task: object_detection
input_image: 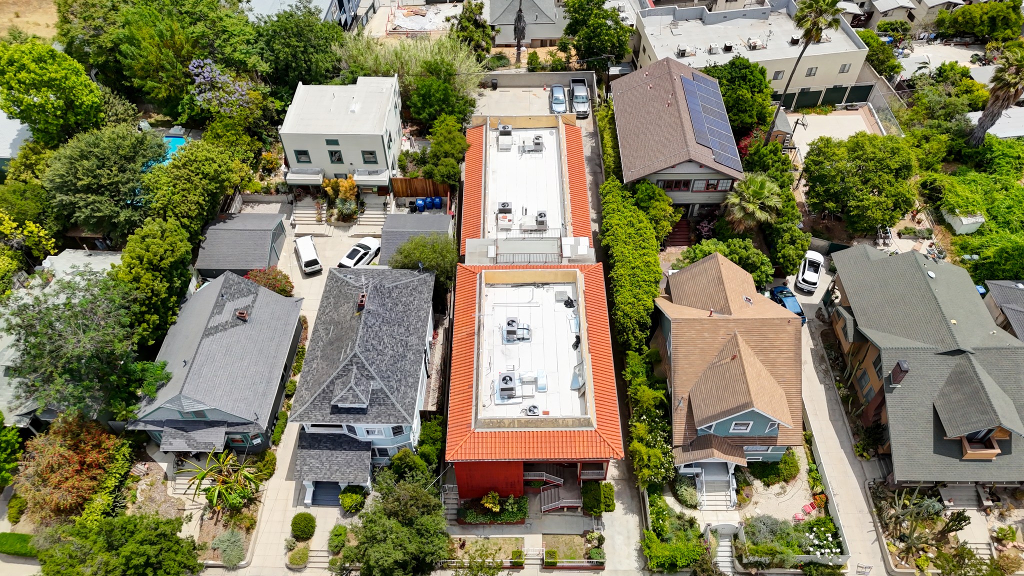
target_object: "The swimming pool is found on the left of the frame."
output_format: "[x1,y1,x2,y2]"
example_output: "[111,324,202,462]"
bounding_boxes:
[80,139,190,214]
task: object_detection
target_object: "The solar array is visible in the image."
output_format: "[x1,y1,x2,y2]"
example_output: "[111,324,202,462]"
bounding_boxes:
[685,74,740,167]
